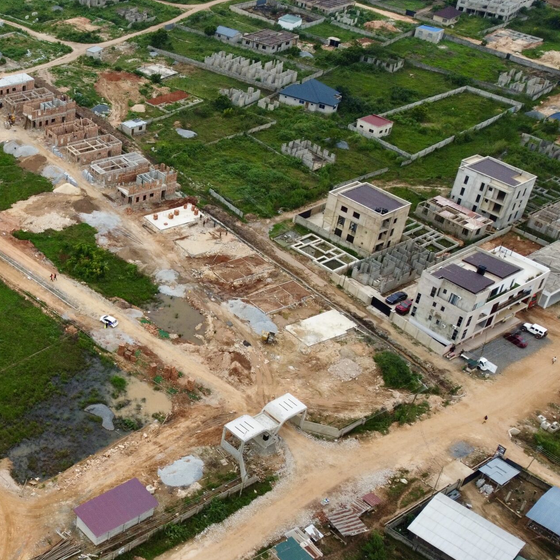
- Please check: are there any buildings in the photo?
Yes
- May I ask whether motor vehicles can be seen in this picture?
Yes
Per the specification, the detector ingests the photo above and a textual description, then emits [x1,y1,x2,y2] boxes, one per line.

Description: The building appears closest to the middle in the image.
[320,182,411,260]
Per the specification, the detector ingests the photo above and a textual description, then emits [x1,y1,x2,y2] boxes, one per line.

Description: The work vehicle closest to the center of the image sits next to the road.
[256,327,284,349]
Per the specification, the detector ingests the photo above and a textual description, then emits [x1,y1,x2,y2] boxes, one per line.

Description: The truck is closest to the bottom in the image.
[471,353,508,374]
